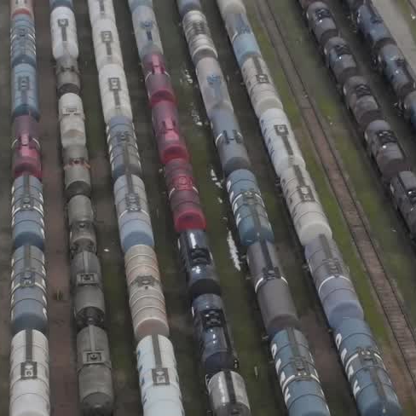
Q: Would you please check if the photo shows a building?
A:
No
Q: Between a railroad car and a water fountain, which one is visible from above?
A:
railroad car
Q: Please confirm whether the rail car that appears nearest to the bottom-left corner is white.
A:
Yes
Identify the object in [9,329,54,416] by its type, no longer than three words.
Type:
rail car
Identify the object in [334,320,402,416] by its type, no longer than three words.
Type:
rail car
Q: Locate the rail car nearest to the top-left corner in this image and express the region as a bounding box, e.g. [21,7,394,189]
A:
[12,0,39,22]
